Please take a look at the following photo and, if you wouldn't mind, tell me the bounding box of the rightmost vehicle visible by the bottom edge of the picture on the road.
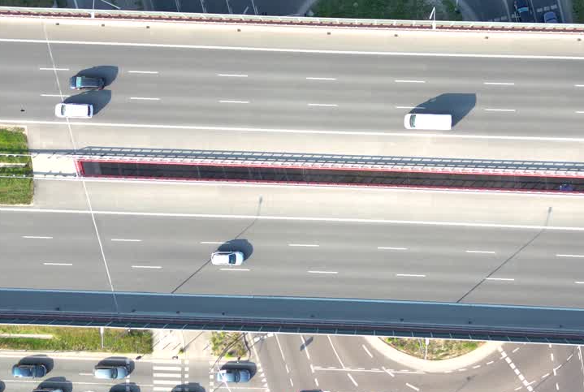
[218,368,251,384]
